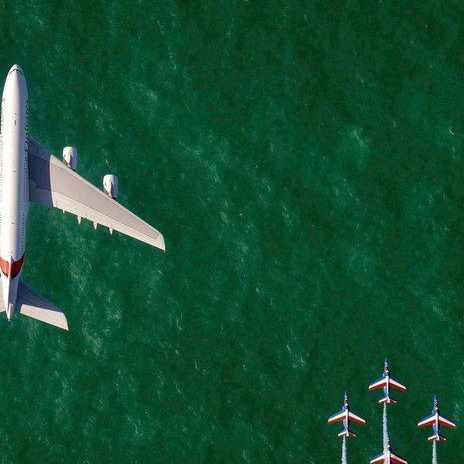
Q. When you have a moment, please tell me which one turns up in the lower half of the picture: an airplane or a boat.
airplane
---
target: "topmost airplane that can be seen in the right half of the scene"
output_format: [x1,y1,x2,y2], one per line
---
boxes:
[368,356,406,403]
